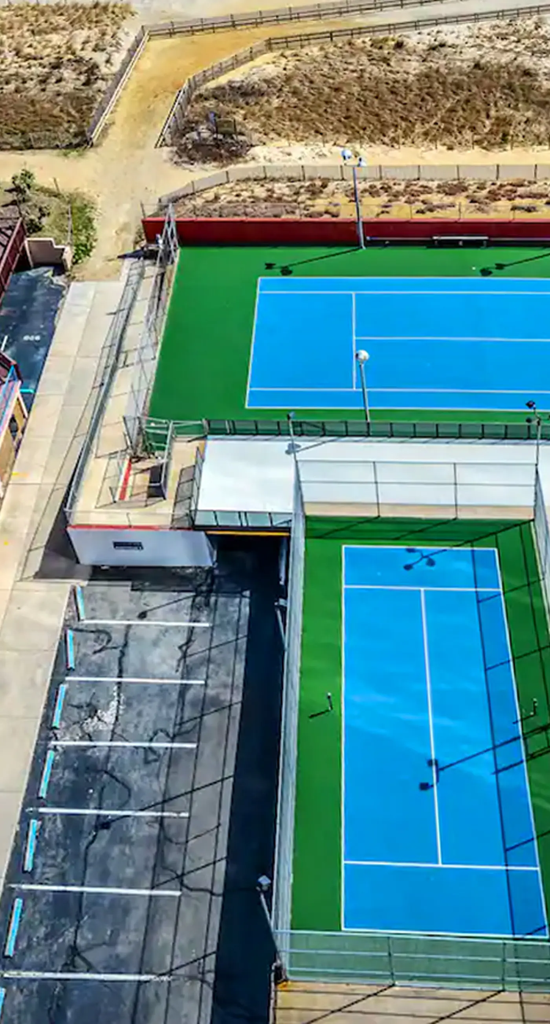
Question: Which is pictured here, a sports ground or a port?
sports ground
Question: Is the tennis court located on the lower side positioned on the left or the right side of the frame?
right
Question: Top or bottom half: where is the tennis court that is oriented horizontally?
top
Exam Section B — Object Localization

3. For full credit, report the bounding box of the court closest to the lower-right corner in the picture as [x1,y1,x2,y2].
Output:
[294,516,550,991]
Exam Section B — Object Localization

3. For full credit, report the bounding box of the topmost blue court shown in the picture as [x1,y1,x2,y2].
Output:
[144,245,550,438]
